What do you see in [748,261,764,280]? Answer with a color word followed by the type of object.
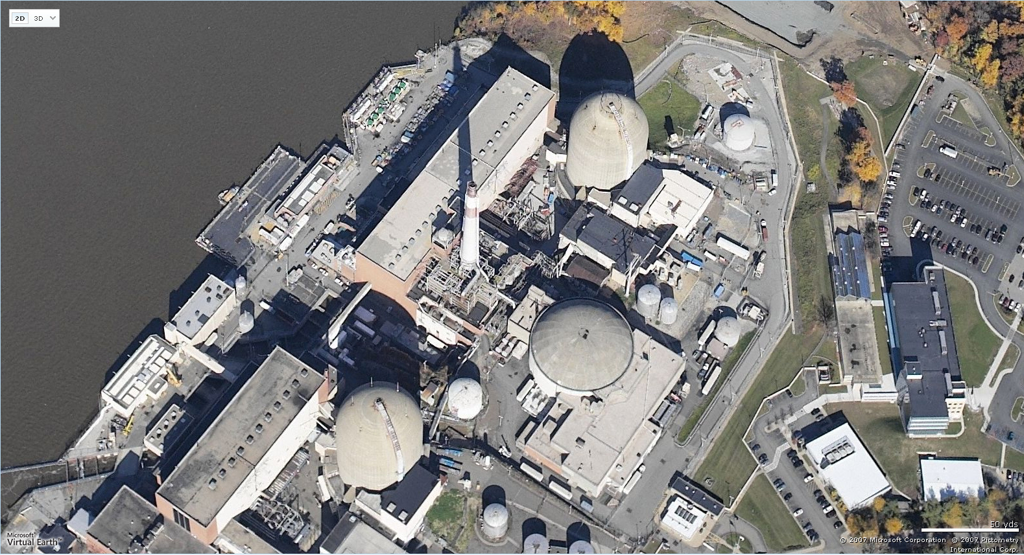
white vehicle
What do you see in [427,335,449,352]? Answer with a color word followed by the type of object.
white vehicle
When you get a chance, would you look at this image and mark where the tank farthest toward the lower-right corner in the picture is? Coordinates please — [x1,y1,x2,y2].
[713,317,743,350]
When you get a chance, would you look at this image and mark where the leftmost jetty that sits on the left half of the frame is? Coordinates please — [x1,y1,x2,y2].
[194,143,305,273]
